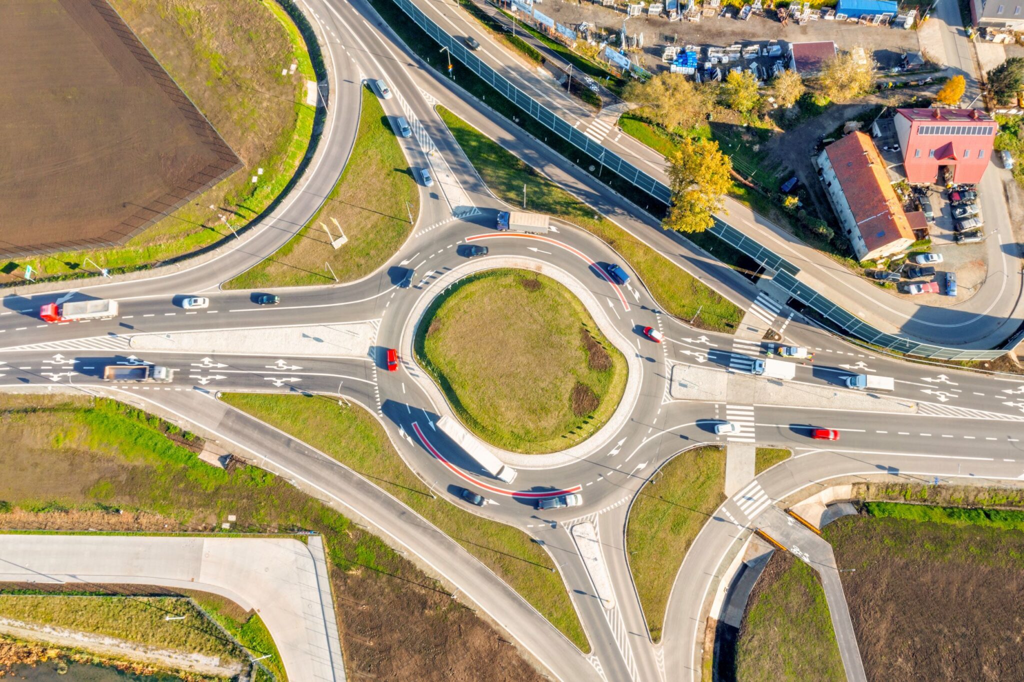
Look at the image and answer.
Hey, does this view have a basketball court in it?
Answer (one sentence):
No, there's no basketball court here.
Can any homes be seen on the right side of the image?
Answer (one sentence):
Yes, a home shows up on the right side of the image.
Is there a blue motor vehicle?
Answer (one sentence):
Yes, a blue motor vehicle appears in the view.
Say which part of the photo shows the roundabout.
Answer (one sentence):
The roundabout appears toward the center of the photo.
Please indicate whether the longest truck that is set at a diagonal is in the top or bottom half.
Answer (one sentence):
The longest truck that is set at a diagonal is in the bottom half of the image.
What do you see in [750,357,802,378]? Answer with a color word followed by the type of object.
white truck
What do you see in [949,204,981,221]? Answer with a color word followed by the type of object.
white car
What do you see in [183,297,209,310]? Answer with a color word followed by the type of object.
white vehicle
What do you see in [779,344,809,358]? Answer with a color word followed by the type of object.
white vehicle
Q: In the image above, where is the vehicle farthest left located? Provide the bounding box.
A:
[32,301,119,326]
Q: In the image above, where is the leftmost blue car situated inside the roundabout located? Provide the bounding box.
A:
[400,269,416,288]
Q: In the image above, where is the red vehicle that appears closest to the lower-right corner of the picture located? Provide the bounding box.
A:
[811,428,839,441]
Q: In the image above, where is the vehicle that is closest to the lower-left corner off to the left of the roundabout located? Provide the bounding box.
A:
[98,365,170,384]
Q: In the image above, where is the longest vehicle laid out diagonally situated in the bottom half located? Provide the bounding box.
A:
[433,417,515,486]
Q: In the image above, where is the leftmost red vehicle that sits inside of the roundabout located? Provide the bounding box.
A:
[385,349,398,371]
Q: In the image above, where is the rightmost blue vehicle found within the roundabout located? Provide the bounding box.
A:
[607,265,631,286]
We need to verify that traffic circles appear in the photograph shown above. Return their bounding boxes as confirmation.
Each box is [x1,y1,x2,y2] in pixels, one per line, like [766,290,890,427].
[374,209,726,531]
